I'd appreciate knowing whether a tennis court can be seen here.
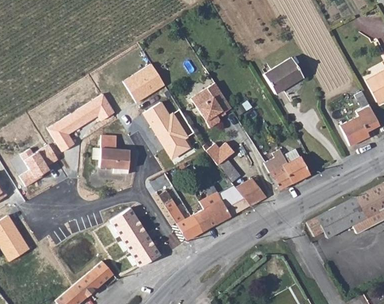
No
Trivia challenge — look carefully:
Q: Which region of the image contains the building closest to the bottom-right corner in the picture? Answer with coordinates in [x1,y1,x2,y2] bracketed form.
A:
[305,182,384,238]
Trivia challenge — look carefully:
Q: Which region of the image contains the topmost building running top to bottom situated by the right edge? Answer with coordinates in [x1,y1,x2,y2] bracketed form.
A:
[361,54,384,106]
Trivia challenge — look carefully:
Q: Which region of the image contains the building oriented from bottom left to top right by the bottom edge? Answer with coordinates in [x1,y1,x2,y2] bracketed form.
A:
[54,262,114,304]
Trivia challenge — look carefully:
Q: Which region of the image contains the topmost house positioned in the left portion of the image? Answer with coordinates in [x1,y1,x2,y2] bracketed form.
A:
[122,64,165,103]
